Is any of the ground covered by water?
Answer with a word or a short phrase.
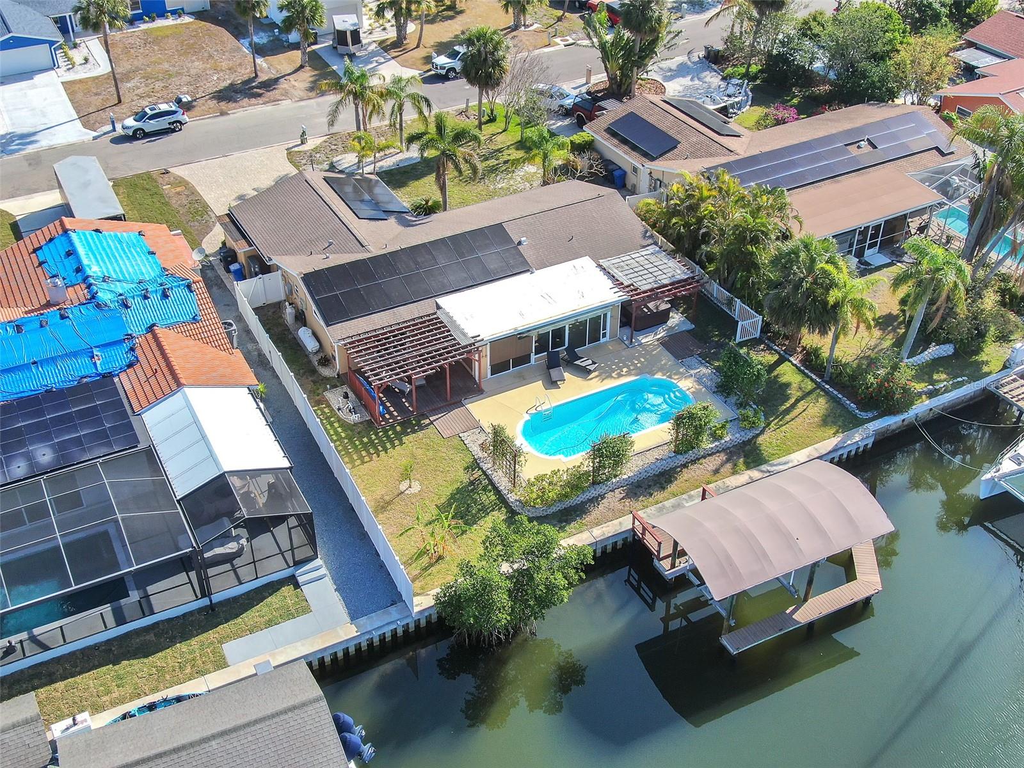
Yes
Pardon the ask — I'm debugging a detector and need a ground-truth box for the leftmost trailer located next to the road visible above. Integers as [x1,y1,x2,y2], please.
[53,157,127,220]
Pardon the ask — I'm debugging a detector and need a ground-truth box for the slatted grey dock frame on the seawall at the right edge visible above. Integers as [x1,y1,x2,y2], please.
[987,370,1024,427]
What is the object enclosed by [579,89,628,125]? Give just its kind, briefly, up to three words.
truck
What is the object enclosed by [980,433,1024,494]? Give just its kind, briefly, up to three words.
boat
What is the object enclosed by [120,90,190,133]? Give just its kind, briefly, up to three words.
car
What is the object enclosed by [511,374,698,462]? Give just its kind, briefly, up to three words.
swimming pool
